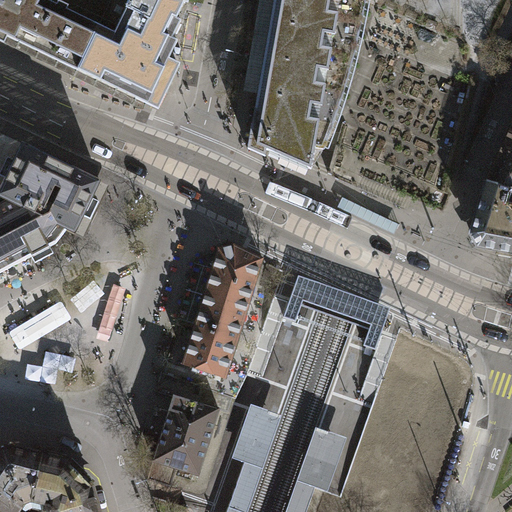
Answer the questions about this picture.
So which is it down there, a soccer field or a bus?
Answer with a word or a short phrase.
bus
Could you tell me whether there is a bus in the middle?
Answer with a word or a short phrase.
Yes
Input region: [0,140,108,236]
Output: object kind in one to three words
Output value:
building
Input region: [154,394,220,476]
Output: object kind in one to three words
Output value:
house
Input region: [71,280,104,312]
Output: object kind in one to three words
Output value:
tent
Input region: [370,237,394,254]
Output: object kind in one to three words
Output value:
car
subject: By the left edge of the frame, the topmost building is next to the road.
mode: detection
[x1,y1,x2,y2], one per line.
[0,0,190,115]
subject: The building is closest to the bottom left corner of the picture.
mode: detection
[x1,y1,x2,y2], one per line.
[0,440,99,512]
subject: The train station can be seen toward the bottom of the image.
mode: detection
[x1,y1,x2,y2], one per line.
[202,276,402,512]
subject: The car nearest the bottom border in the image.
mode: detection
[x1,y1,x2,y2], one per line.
[96,486,108,510]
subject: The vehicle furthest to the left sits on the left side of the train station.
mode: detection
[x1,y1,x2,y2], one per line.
[60,436,82,452]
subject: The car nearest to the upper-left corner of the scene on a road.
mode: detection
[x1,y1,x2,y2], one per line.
[90,142,113,158]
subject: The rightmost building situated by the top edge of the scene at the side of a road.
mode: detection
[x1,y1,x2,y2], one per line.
[239,0,372,174]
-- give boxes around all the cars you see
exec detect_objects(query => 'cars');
[96,486,108,510]
[408,254,432,270]
[126,160,150,177]
[484,327,508,342]
[90,142,113,158]
[178,182,200,198]
[370,237,394,254]
[60,436,82,452]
